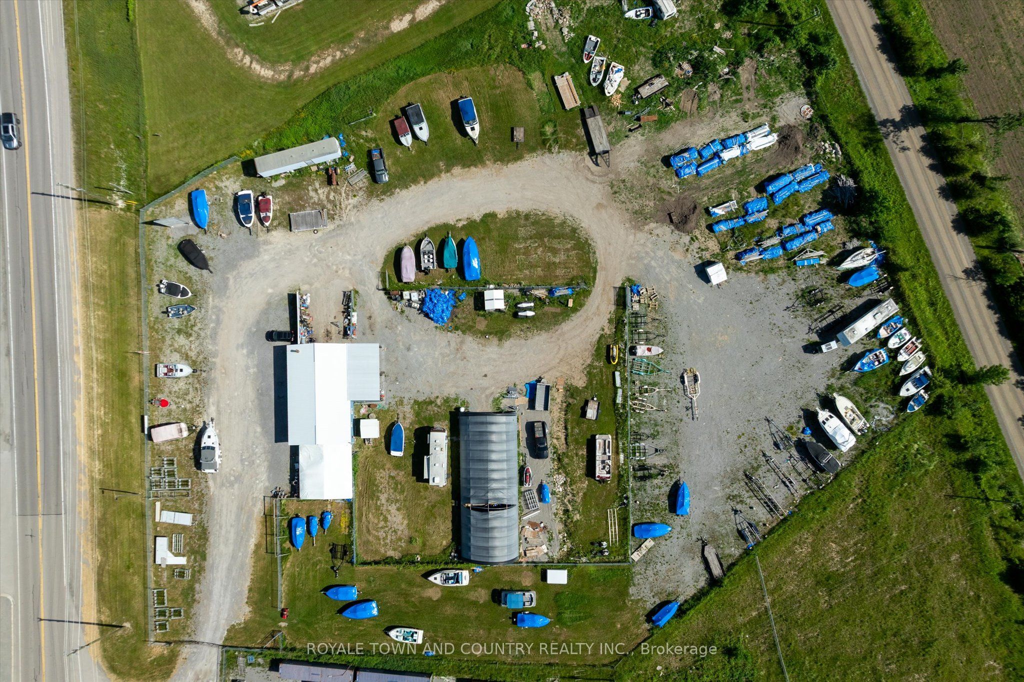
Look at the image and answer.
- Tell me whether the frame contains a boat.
Yes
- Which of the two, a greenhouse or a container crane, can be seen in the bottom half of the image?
greenhouse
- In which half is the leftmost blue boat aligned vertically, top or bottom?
top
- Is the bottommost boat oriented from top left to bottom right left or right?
right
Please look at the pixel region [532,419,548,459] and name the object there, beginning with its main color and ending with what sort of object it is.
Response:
black vehicle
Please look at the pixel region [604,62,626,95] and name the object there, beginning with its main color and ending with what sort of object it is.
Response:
white boat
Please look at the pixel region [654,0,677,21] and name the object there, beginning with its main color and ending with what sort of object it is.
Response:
white camper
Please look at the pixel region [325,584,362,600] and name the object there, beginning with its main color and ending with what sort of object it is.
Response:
blue boat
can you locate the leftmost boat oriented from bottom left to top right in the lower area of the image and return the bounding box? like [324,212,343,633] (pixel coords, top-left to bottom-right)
[649,601,680,629]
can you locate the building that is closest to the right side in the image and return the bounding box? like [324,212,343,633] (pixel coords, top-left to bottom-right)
[702,263,727,287]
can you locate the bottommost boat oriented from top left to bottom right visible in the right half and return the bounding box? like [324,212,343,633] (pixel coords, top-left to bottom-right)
[805,441,842,478]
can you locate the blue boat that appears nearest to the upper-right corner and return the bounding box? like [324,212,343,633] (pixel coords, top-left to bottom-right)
[847,264,883,286]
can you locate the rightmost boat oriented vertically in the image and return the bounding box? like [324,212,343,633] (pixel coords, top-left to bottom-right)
[675,481,690,520]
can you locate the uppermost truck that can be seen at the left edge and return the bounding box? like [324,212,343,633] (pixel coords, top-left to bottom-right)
[2,112,23,151]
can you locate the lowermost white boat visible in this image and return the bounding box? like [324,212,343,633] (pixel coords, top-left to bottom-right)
[388,627,424,645]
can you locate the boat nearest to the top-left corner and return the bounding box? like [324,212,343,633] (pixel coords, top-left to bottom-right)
[190,186,210,228]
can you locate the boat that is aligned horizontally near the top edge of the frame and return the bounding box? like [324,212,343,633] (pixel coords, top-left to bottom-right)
[624,5,653,19]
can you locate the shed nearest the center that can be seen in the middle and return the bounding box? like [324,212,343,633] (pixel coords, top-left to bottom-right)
[485,290,504,310]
